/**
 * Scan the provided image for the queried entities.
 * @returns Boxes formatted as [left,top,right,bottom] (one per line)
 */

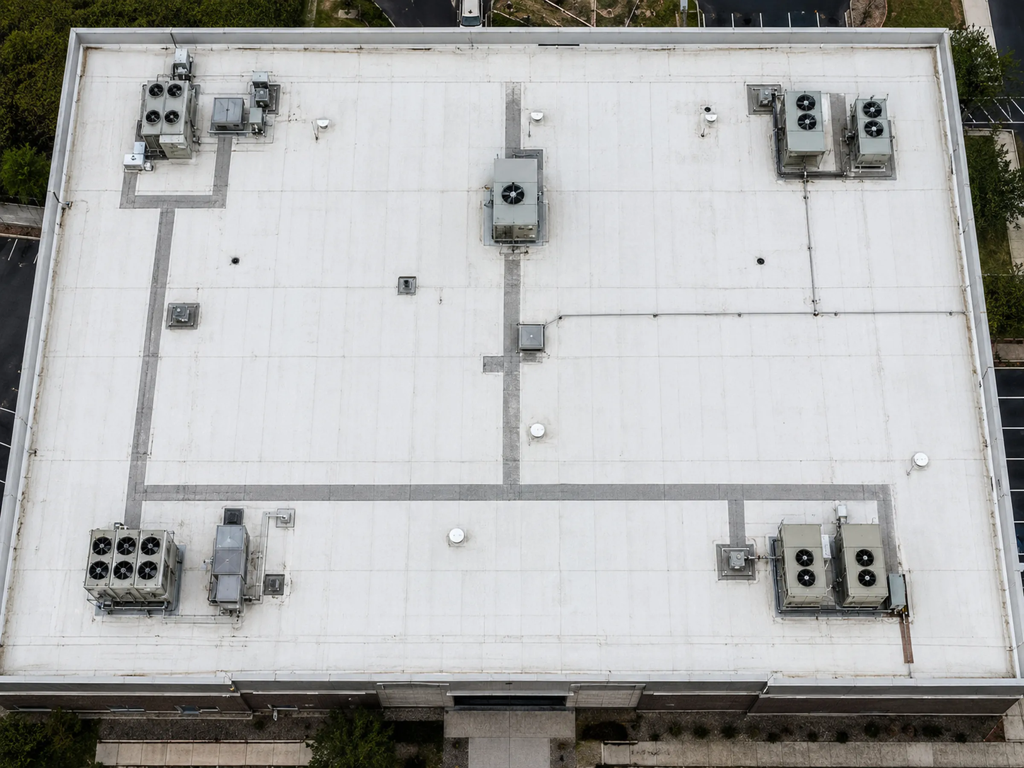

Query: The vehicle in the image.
[458,0,484,27]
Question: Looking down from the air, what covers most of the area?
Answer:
buildings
